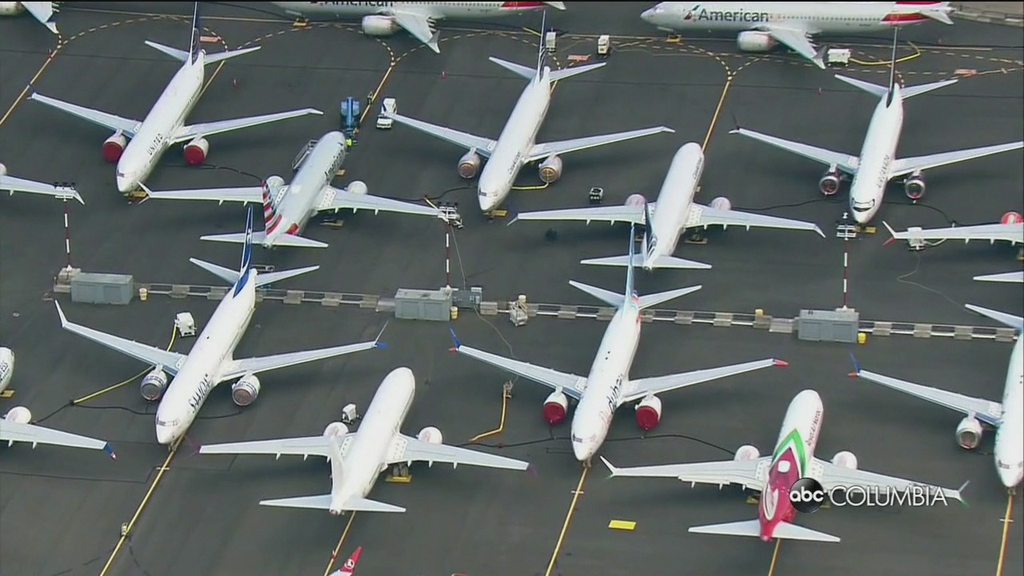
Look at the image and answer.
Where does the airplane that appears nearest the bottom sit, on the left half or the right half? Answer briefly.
left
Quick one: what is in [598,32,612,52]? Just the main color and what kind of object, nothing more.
white vehicle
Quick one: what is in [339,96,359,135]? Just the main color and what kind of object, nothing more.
blue vehicle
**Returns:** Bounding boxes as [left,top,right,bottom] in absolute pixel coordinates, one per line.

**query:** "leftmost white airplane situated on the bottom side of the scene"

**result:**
[0,349,117,458]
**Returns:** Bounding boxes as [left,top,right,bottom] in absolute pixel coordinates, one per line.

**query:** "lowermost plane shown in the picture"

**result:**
[325,548,363,576]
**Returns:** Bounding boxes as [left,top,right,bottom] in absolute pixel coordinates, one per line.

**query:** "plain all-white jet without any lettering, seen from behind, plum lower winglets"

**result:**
[184,370,539,515]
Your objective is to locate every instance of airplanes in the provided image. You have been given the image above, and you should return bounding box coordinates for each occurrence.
[505,154,825,269]
[640,0,955,68]
[377,8,676,211]
[136,135,448,248]
[886,214,1024,284]
[58,204,388,442]
[853,301,1024,492]
[731,23,1024,227]
[269,0,570,51]
[601,394,966,543]
[184,370,539,515]
[0,170,86,211]
[448,223,786,464]
[30,0,322,192]
[0,349,117,458]
[325,548,363,576]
